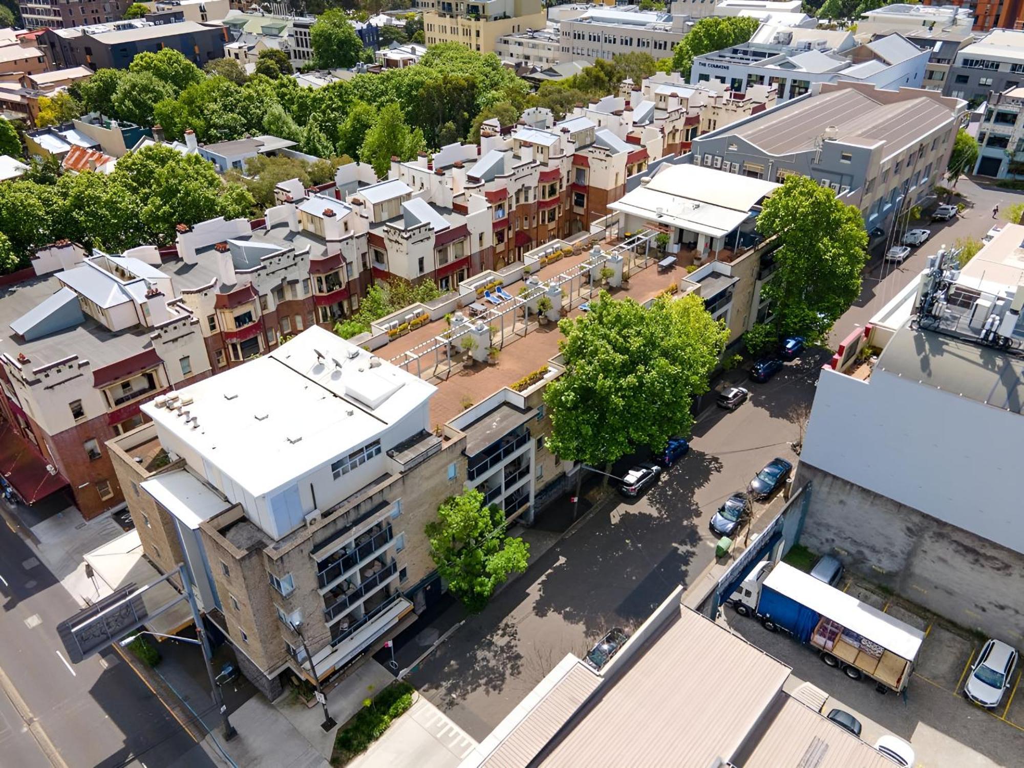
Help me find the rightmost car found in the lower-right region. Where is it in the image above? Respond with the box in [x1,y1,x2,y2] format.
[966,636,1024,709]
